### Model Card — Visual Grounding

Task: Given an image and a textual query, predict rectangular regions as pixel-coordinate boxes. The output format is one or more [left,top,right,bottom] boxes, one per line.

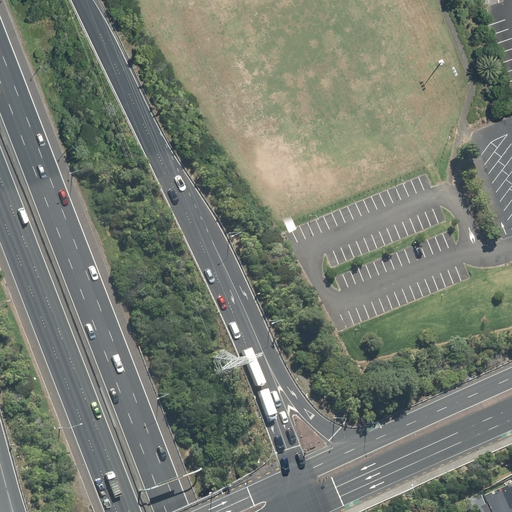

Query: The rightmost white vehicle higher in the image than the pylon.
[229,321,241,340]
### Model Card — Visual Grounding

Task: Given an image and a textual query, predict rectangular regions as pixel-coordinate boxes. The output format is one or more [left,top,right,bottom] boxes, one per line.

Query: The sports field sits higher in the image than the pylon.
[140,0,466,222]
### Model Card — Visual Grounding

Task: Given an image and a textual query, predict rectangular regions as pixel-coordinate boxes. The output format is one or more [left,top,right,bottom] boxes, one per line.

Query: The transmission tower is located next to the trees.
[210,348,264,374]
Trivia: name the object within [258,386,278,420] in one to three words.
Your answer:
vehicle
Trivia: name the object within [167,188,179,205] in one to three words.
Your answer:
vehicle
